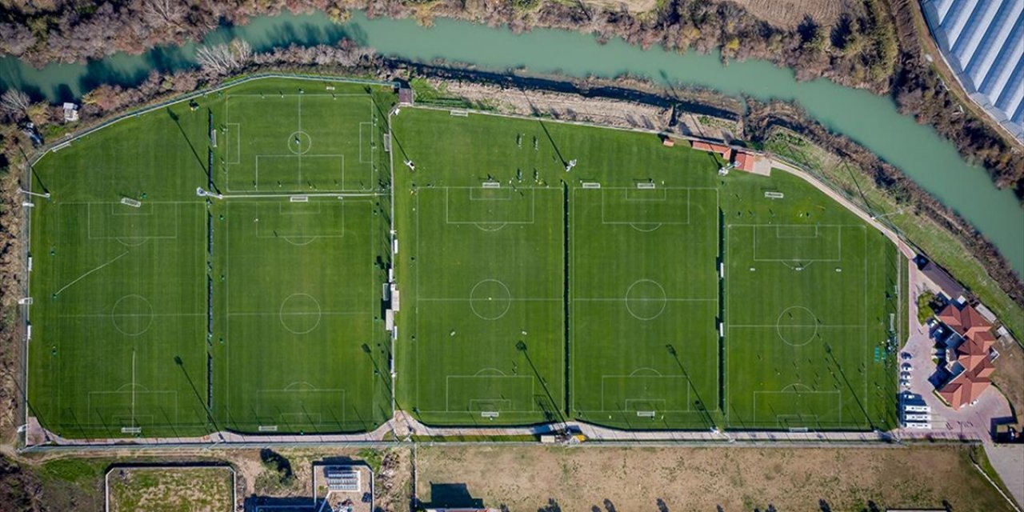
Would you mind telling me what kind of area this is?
sports ground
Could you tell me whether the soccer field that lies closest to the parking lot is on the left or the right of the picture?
right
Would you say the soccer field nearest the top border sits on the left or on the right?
left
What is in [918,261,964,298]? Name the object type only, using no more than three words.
shed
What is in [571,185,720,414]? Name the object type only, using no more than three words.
soccer field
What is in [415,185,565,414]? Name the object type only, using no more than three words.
soccer field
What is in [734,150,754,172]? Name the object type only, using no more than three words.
shed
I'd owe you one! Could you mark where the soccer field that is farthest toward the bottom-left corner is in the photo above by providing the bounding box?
[57,200,208,429]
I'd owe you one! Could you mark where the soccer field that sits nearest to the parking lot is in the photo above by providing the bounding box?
[726,223,868,429]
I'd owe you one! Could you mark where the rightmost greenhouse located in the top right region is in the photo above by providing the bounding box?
[922,0,1024,138]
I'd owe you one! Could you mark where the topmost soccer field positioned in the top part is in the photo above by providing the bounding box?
[225,92,375,194]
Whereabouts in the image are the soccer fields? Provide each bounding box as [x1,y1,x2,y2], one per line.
[571,185,720,414]
[225,198,375,428]
[57,200,208,429]
[726,223,868,429]
[415,185,565,414]
[225,92,375,194]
